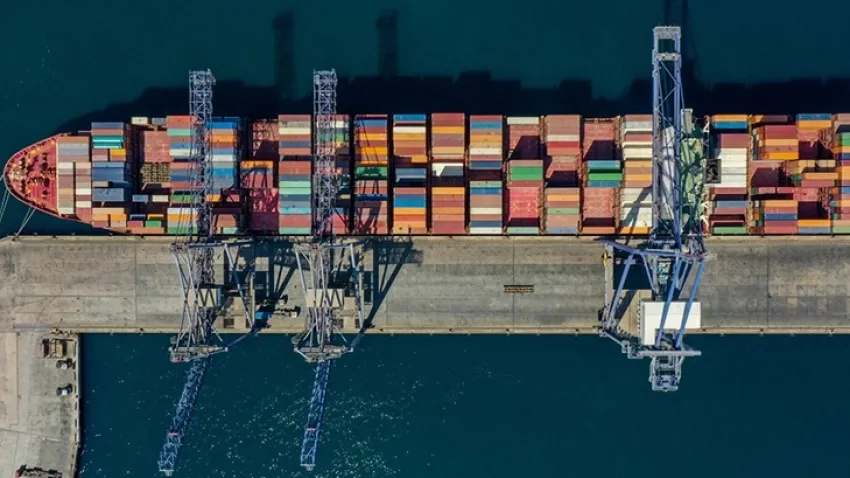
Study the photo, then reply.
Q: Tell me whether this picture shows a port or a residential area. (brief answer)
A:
port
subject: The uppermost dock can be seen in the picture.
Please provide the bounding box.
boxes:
[0,237,850,332]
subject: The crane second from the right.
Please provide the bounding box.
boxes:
[288,69,369,469]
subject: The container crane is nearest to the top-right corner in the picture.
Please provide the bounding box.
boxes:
[590,26,718,390]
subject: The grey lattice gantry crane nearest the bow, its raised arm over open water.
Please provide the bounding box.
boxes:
[157,69,263,469]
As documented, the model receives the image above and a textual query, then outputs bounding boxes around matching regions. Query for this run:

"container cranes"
[288,69,369,469]
[157,69,263,469]
[590,26,718,390]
